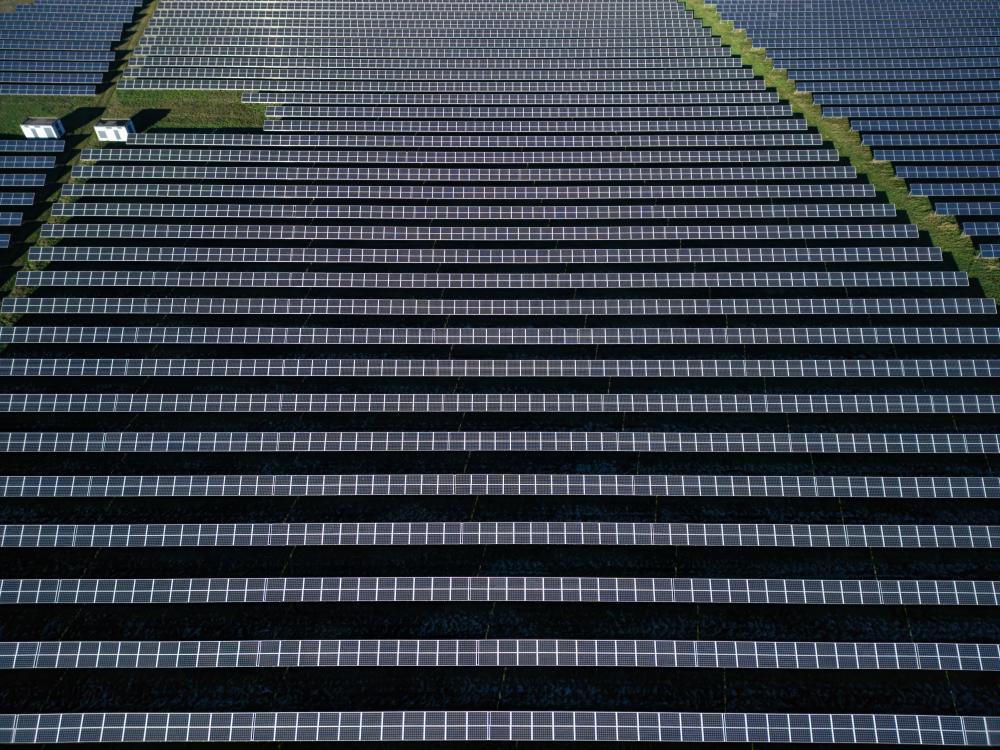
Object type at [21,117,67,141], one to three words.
building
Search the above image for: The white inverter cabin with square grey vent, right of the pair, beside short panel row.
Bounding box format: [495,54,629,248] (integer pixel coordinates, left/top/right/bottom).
[95,118,138,142]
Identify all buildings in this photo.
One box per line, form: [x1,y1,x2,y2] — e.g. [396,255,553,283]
[95,118,138,142]
[21,117,67,141]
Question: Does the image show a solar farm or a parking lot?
solar farm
